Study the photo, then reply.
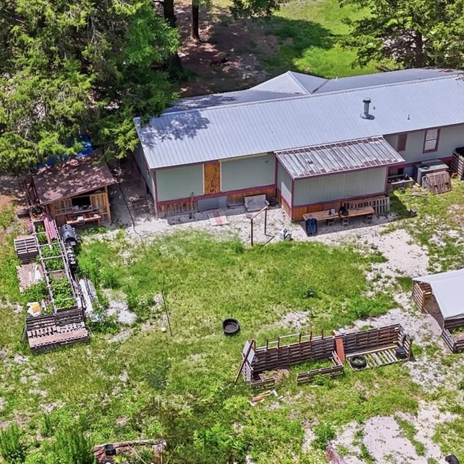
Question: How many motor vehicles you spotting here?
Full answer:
No motor vehicles are visible.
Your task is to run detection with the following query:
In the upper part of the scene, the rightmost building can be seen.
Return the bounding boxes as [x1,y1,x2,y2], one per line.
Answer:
[117,65,464,220]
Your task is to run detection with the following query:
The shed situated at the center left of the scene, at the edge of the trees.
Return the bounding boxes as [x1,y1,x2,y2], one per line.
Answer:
[44,154,113,225]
